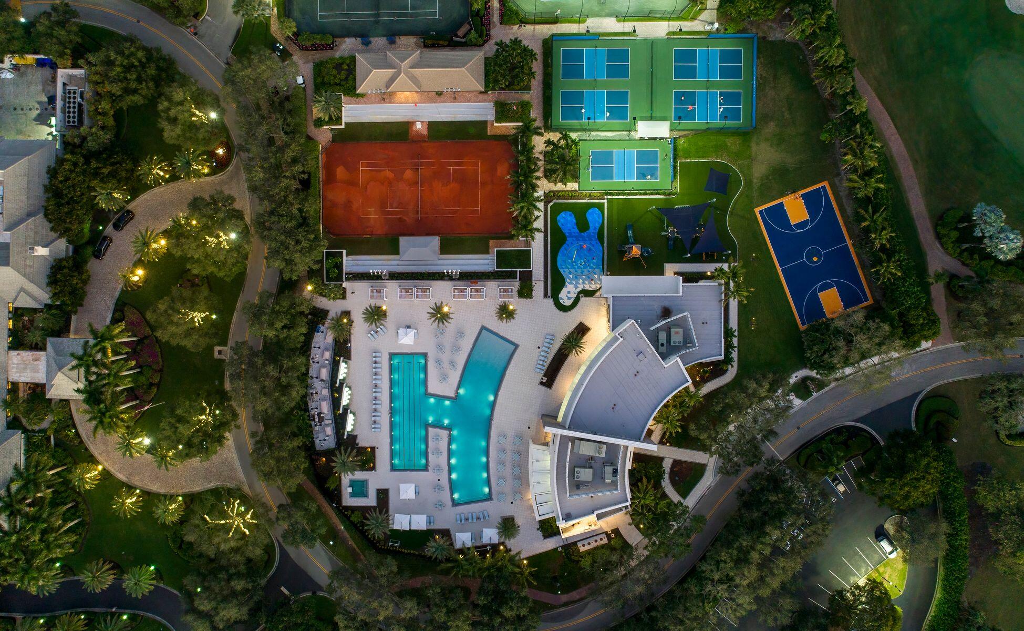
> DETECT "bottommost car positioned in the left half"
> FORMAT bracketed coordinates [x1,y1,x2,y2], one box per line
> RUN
[95,235,114,260]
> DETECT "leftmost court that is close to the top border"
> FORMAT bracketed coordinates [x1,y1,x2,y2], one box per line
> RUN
[286,0,471,36]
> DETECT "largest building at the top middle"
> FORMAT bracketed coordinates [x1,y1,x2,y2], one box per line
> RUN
[356,50,484,93]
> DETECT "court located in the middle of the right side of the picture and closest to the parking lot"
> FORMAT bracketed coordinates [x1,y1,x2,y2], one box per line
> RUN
[755,182,873,329]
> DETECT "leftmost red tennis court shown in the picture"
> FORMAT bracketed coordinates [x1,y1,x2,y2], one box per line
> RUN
[322,140,519,236]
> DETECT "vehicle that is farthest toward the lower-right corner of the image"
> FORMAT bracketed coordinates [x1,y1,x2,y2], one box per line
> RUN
[876,533,899,558]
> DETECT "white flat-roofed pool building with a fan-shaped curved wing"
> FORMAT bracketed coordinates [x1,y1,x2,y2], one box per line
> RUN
[542,276,723,539]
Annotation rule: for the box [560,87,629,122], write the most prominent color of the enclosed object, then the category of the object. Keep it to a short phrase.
blue sports court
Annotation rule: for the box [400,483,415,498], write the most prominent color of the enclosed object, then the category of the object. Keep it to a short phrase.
white umbrella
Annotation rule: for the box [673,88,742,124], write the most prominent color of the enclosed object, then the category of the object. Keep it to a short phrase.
blue sports court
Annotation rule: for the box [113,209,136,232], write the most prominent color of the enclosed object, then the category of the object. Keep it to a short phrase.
black car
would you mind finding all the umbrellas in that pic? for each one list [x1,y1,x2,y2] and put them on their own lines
[411,513,426,529]
[386,35,396,45]
[394,513,410,529]
[400,328,416,344]
[361,36,371,46]
[482,527,497,543]
[456,531,471,547]
[400,483,415,498]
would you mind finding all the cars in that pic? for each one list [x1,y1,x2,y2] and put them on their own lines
[113,209,136,232]
[95,235,114,260]
[876,533,899,558]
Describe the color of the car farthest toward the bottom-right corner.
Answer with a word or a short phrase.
white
